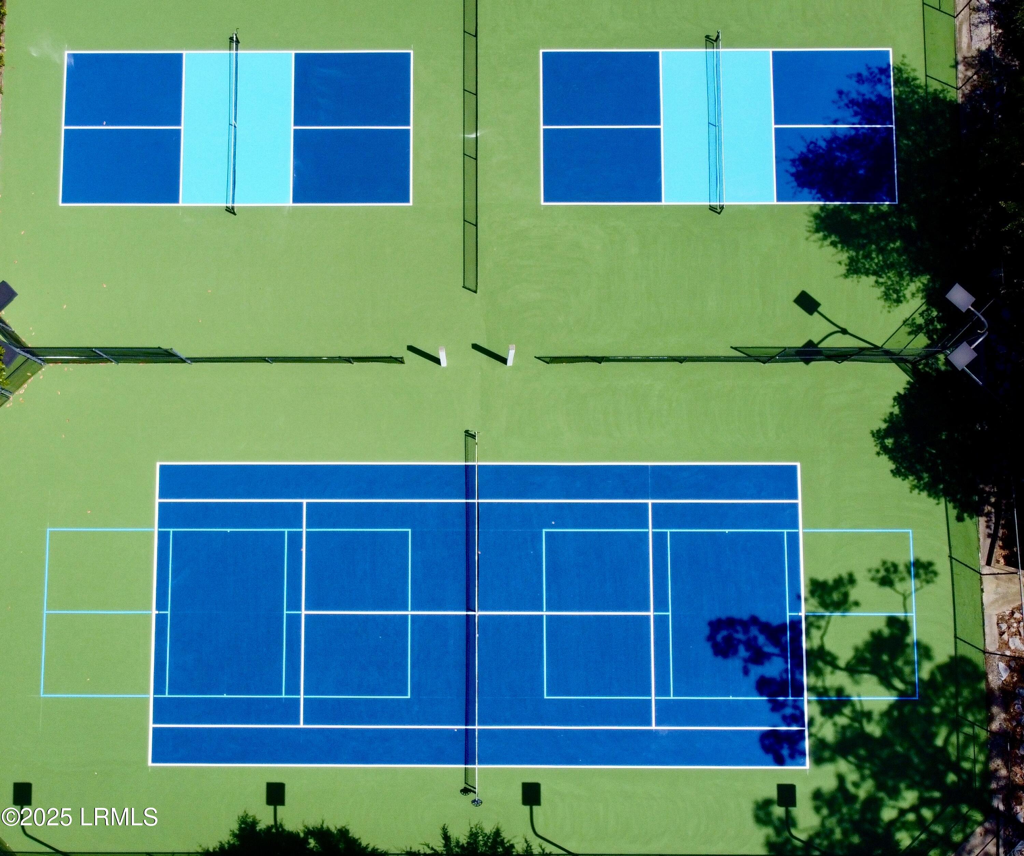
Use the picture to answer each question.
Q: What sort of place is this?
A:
sports ground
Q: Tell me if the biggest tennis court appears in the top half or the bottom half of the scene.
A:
bottom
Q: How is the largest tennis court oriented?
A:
horizontally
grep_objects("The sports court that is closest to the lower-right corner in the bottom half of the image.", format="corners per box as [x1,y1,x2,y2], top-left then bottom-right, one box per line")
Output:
[544,529,918,700]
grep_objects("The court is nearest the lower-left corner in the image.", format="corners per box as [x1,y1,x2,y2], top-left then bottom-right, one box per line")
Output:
[41,528,411,698]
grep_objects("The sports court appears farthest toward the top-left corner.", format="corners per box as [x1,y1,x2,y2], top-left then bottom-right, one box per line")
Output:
[59,44,413,209]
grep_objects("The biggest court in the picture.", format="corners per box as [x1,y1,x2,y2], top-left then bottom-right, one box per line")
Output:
[148,453,809,769]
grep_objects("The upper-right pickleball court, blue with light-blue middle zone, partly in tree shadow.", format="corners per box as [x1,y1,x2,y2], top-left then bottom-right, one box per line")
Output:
[540,42,898,215]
